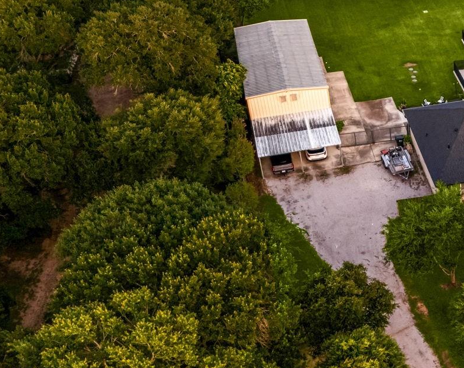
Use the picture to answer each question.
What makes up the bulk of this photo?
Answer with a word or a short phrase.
trees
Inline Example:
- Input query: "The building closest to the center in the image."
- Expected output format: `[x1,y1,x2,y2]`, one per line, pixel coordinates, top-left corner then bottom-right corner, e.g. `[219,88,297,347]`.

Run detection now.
[234,18,344,177]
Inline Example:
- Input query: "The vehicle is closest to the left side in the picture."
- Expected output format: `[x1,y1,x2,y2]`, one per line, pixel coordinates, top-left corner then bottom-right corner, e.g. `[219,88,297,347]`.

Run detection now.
[271,154,294,172]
